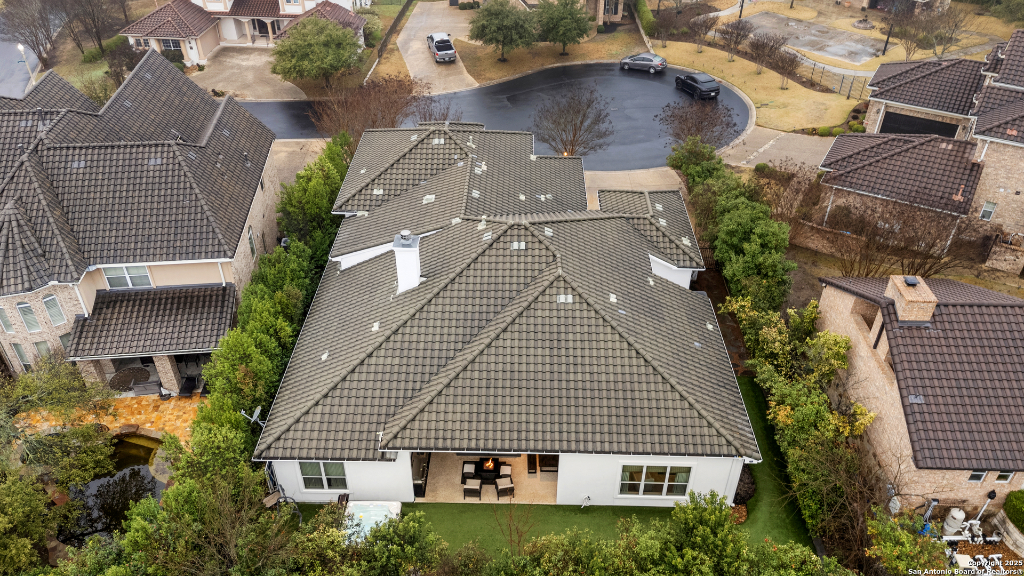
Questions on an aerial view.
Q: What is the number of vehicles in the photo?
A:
3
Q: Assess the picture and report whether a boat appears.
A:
No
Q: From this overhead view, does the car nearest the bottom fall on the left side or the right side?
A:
right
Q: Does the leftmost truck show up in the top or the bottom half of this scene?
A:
top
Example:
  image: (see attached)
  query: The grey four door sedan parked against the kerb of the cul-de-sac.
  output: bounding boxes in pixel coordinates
[616,52,668,76]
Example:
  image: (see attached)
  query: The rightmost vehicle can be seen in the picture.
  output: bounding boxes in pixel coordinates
[674,73,721,102]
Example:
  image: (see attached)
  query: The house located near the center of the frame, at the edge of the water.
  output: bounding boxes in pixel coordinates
[253,121,762,514]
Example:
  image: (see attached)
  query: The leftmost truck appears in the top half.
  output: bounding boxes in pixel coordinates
[426,30,458,62]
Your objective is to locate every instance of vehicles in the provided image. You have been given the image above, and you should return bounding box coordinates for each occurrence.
[674,73,721,102]
[426,30,458,62]
[616,52,668,76]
